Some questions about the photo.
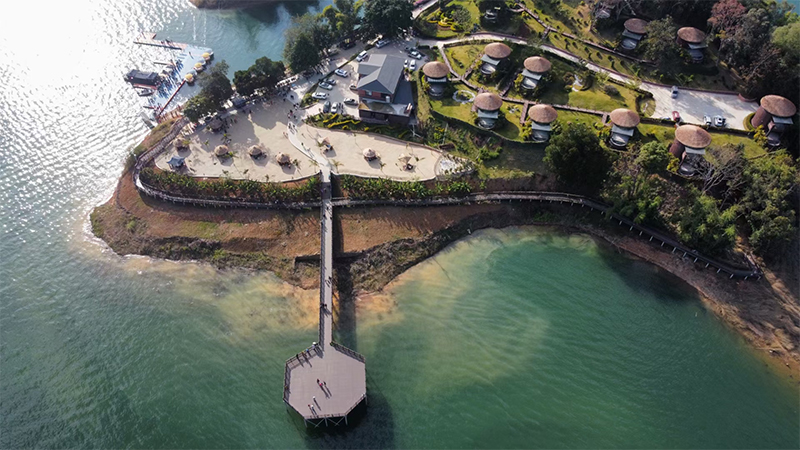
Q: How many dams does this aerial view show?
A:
0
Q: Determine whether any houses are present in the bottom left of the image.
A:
No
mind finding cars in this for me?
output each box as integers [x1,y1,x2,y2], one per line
[670,84,679,98]
[312,90,327,99]
[322,101,332,112]
[702,115,712,126]
[355,51,369,60]
[657,115,675,123]
[318,82,333,90]
[330,102,340,112]
[672,110,682,122]
[347,83,359,91]
[713,114,724,127]
[408,51,422,59]
[341,38,355,48]
[327,45,341,55]
[403,59,409,68]
[404,45,419,52]
[409,59,416,70]
[334,69,348,77]
[322,77,338,85]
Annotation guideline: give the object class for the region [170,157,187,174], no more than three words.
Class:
gazebo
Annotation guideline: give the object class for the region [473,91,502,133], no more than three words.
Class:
house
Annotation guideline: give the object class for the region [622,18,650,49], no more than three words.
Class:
house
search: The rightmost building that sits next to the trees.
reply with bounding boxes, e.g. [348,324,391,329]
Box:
[750,95,799,145]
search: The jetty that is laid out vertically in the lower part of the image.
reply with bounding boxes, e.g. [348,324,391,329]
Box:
[284,172,367,424]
